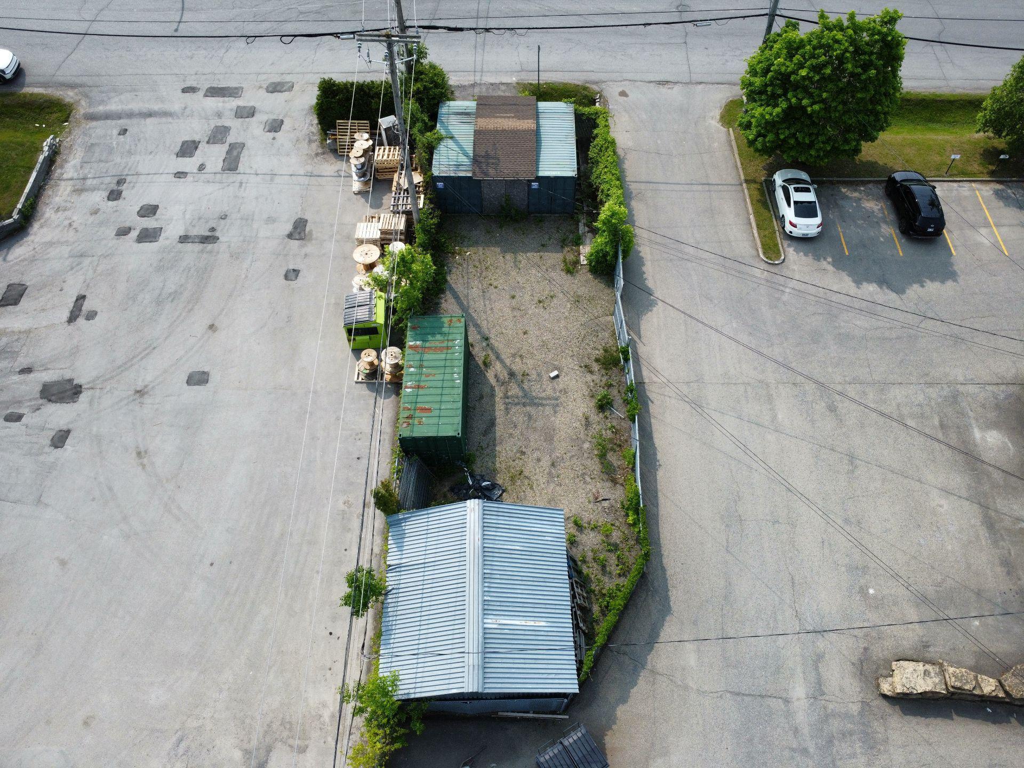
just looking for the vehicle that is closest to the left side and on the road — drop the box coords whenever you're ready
[0,43,26,79]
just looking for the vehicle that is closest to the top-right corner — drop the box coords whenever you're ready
[886,167,948,236]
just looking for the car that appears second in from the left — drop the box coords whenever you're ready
[772,168,822,234]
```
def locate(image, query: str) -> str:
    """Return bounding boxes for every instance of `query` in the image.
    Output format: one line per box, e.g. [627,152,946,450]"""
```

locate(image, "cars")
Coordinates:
[772,168,822,234]
[0,43,26,79]
[886,167,948,236]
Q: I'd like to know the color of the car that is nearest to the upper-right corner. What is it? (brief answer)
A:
black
